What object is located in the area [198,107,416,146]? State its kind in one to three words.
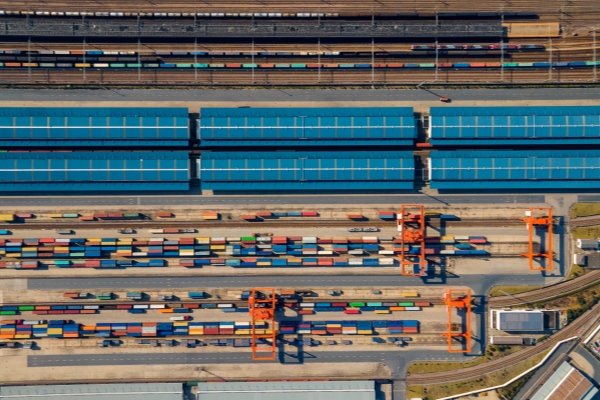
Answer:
building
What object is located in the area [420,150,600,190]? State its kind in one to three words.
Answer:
building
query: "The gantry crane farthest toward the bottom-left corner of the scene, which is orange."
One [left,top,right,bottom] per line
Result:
[248,288,280,359]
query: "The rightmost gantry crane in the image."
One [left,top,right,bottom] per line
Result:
[519,208,553,270]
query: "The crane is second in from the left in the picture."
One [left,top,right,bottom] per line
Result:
[395,205,425,276]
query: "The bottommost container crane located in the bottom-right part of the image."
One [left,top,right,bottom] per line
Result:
[441,289,472,352]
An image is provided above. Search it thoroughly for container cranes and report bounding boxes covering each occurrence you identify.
[519,208,553,270]
[441,289,472,352]
[248,288,280,359]
[395,205,425,276]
